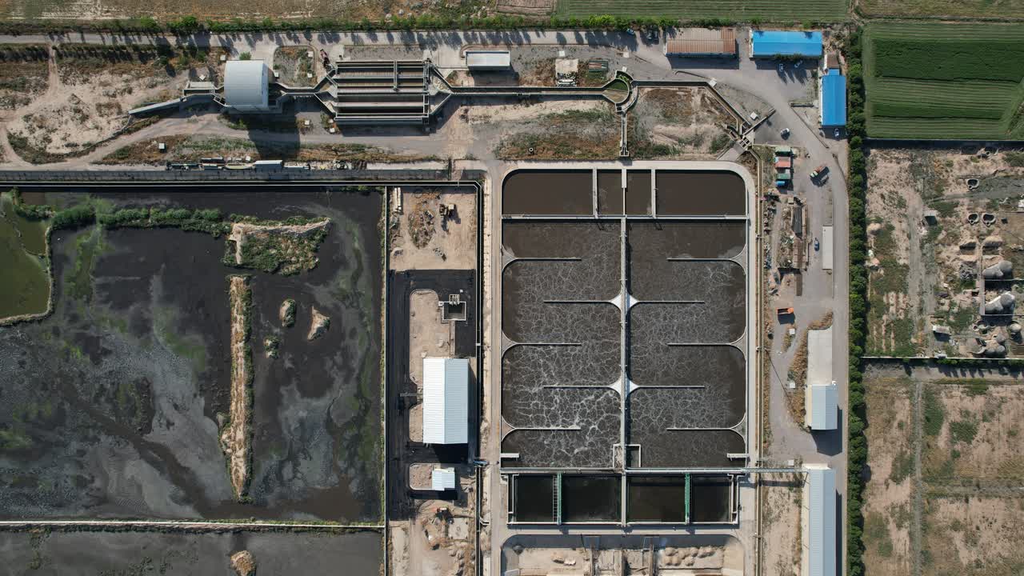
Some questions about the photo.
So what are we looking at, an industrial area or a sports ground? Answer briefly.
industrial area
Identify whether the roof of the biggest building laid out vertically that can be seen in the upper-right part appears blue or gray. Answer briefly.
blue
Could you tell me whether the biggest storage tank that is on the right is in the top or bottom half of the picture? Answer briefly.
bottom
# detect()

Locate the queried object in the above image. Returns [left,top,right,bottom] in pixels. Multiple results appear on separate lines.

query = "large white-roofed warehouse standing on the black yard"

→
[423,357,469,445]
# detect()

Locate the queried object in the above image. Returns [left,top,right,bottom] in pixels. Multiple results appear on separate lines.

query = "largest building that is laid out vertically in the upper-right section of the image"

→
[820,69,846,127]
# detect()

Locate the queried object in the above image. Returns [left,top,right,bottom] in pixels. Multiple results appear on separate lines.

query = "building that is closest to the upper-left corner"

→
[223,60,288,117]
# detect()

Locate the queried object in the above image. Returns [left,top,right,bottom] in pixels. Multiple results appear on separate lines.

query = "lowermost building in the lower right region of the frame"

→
[799,464,837,576]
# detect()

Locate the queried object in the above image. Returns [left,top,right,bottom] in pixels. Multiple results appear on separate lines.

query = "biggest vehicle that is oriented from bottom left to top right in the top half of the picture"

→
[808,162,829,178]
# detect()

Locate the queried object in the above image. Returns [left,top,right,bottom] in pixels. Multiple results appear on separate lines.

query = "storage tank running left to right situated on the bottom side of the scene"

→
[507,472,744,527]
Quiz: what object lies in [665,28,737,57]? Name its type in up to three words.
building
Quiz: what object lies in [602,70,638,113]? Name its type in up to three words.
storage tank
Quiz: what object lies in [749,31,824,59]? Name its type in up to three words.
building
